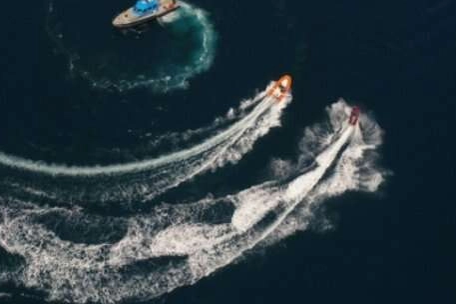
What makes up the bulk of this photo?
water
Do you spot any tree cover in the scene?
No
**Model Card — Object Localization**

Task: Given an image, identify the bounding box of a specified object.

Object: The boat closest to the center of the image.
[267,73,290,100]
